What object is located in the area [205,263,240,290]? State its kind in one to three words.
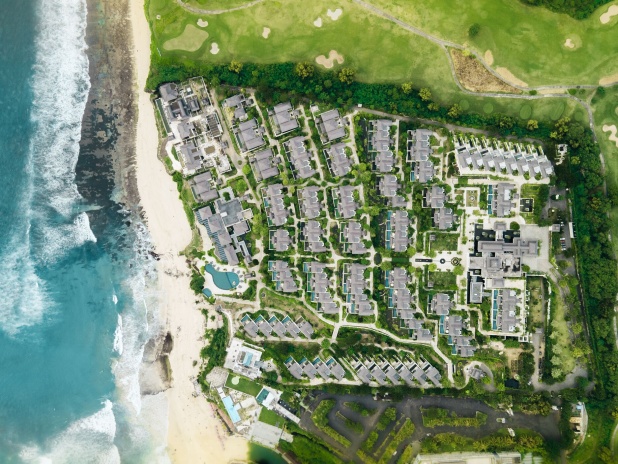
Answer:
swimming pool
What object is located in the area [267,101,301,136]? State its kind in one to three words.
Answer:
house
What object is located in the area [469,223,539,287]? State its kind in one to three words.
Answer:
building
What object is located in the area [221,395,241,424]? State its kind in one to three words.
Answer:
swimming pool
